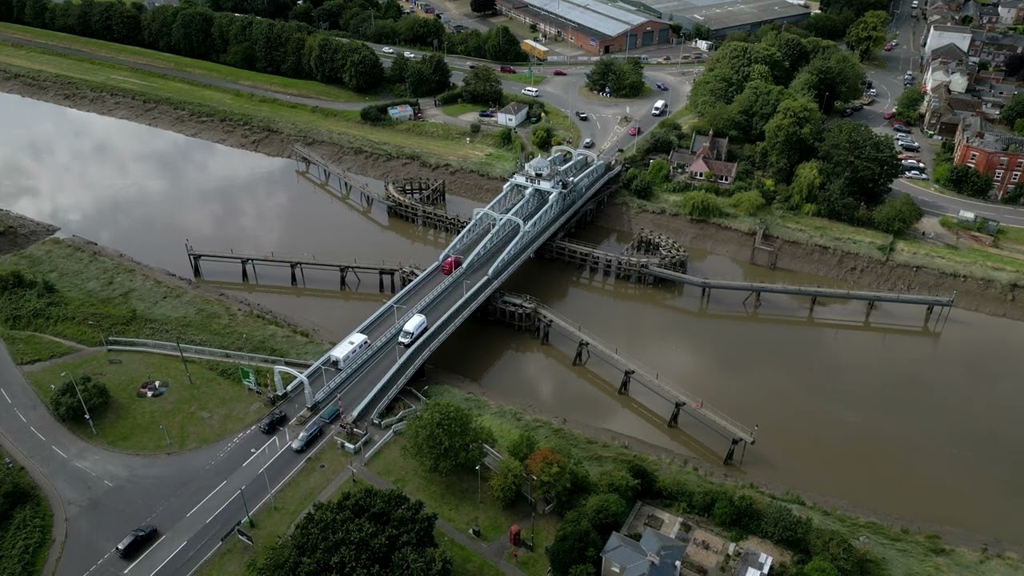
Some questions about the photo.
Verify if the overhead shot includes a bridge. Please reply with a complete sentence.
Yes, a bridge is visible in the scene.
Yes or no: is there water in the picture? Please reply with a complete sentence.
Yes, the picture does contain water.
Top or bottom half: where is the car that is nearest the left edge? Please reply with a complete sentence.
You can find the car that is nearest the left edge in the bottom half.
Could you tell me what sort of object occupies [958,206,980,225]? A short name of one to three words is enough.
shed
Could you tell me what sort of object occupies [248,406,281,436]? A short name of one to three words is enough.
car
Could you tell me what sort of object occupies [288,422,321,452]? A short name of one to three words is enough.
car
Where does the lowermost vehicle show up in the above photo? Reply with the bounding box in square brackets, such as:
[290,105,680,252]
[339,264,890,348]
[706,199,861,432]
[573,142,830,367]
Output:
[109,520,154,557]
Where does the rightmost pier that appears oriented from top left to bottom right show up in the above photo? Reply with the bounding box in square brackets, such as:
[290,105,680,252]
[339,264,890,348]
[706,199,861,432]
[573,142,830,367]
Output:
[533,303,758,449]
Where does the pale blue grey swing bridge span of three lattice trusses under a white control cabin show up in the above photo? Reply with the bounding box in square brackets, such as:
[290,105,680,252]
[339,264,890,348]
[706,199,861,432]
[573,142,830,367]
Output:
[439,146,622,291]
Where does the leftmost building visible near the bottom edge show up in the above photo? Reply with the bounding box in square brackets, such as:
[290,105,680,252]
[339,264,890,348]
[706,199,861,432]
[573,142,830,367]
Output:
[601,528,689,576]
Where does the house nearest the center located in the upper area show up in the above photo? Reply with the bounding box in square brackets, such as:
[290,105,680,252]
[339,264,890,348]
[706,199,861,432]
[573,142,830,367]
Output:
[496,103,533,128]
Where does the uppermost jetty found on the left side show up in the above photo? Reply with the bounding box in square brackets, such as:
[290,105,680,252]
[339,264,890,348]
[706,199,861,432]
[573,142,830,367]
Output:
[289,143,399,212]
